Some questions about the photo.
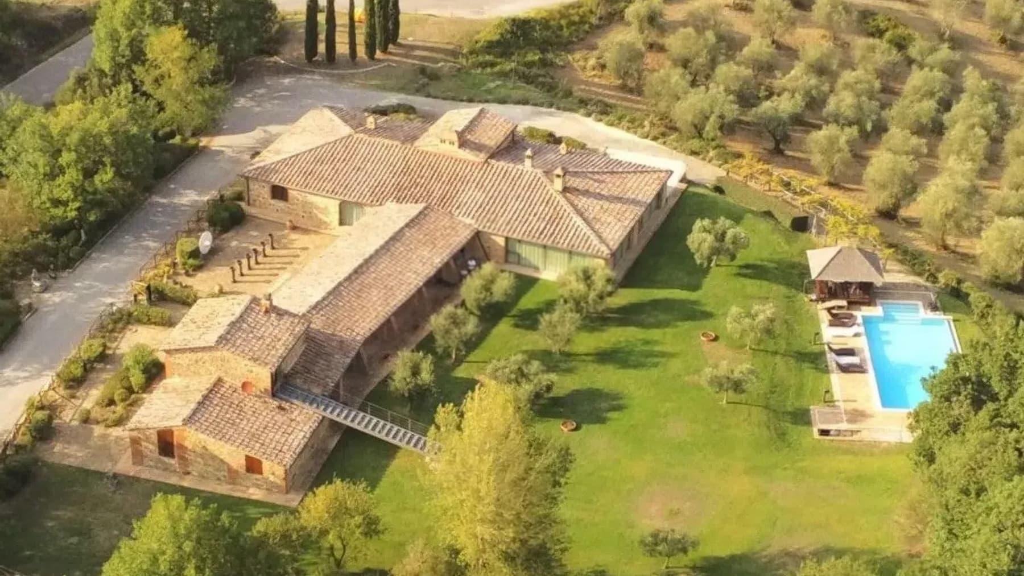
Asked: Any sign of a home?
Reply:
Yes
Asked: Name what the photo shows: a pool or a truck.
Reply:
pool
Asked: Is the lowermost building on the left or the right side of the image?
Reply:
left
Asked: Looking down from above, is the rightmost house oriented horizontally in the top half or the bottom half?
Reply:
top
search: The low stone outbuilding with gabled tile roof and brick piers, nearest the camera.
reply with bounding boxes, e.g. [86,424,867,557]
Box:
[114,369,323,493]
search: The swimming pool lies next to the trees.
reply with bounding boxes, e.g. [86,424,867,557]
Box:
[852,301,966,416]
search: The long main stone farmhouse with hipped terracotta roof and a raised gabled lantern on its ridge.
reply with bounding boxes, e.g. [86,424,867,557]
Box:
[238,105,671,276]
